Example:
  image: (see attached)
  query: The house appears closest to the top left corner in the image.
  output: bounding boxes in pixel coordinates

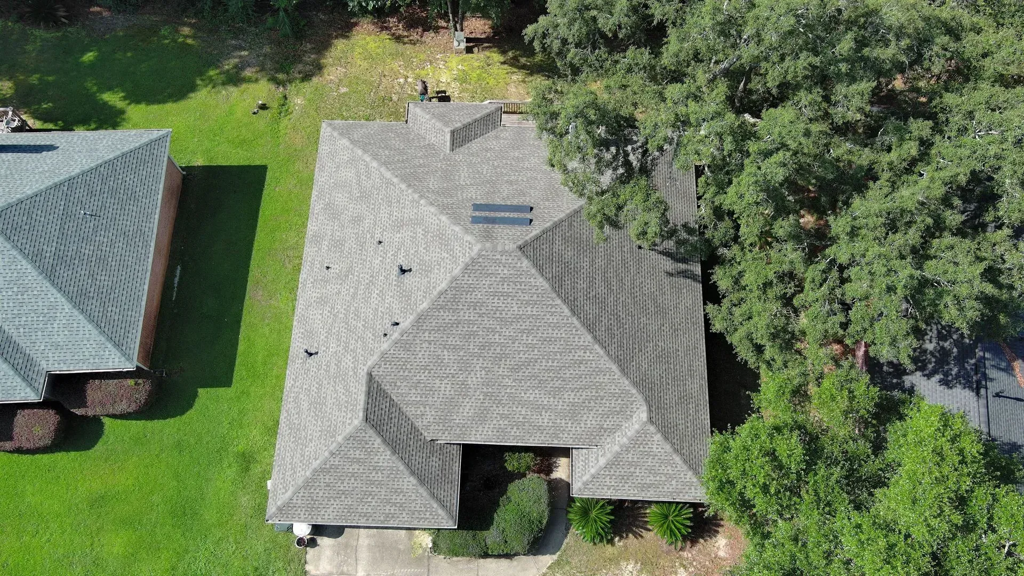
[0,128,194,404]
